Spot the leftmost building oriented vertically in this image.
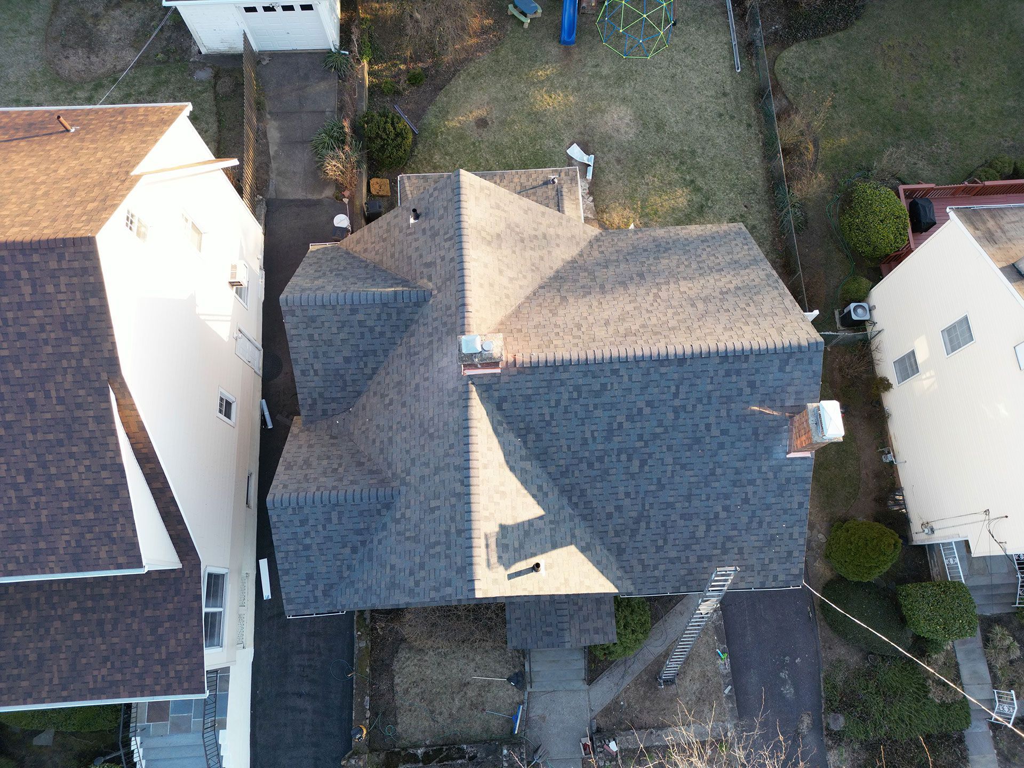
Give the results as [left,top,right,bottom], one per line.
[0,105,267,768]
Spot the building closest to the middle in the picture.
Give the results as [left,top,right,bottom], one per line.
[263,165,851,694]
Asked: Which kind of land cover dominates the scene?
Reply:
buildings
